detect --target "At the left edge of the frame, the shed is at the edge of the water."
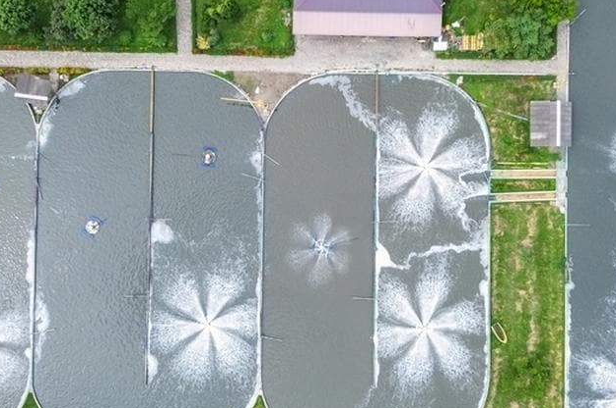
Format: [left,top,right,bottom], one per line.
[14,71,60,113]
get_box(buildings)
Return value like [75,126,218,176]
[293,0,446,41]
[526,98,571,148]
[14,71,60,113]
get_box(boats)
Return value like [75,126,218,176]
[493,324,505,343]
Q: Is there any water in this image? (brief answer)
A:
Yes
